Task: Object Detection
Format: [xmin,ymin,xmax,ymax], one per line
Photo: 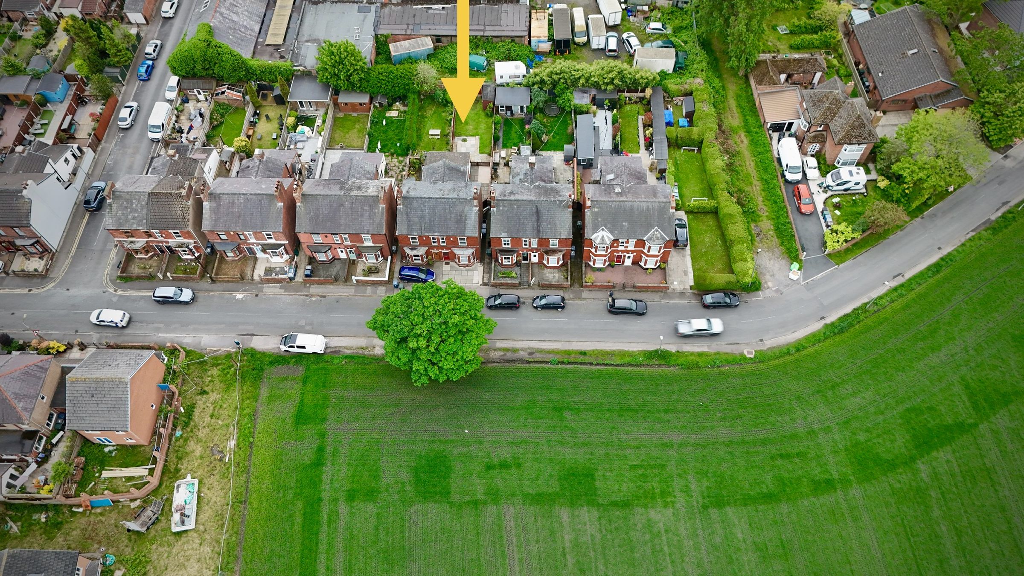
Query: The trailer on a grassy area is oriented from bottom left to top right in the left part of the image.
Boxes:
[118,485,167,539]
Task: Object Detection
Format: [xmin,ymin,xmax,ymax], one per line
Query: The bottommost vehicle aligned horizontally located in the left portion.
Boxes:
[275,329,328,354]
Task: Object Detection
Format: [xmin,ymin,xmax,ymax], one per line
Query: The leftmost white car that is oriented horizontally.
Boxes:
[83,306,131,327]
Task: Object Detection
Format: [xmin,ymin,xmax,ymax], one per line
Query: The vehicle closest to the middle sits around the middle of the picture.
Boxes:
[485,290,521,310]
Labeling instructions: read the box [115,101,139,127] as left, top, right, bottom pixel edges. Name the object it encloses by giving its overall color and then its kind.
white car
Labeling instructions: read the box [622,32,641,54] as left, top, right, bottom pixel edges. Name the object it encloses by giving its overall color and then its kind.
white car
